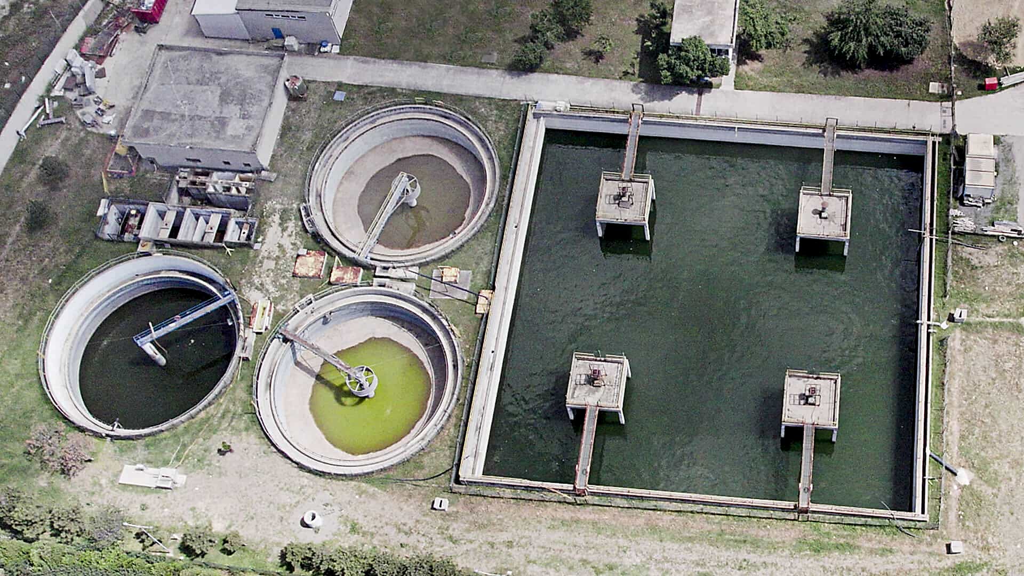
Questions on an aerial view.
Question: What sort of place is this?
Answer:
industrial area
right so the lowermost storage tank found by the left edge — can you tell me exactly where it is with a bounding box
[39,251,251,447]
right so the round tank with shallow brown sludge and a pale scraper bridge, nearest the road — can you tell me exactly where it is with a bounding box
[308,95,501,270]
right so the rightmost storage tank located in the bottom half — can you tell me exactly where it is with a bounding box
[253,280,464,480]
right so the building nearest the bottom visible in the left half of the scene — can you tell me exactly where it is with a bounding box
[124,45,293,172]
